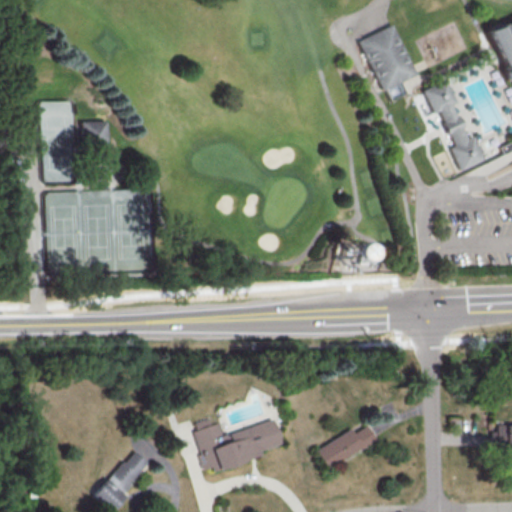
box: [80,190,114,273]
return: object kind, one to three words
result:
tennis court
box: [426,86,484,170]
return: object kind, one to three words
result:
building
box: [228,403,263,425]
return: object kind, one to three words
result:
swimming pool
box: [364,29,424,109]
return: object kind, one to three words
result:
building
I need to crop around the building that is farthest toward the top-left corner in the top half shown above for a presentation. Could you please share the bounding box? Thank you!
[80,122,110,148]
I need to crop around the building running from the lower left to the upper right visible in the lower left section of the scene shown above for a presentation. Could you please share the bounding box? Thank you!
[96,451,148,505]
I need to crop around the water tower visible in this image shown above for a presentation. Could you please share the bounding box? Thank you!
[362,240,388,265]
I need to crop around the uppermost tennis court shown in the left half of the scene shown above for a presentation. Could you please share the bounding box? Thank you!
[38,100,76,184]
